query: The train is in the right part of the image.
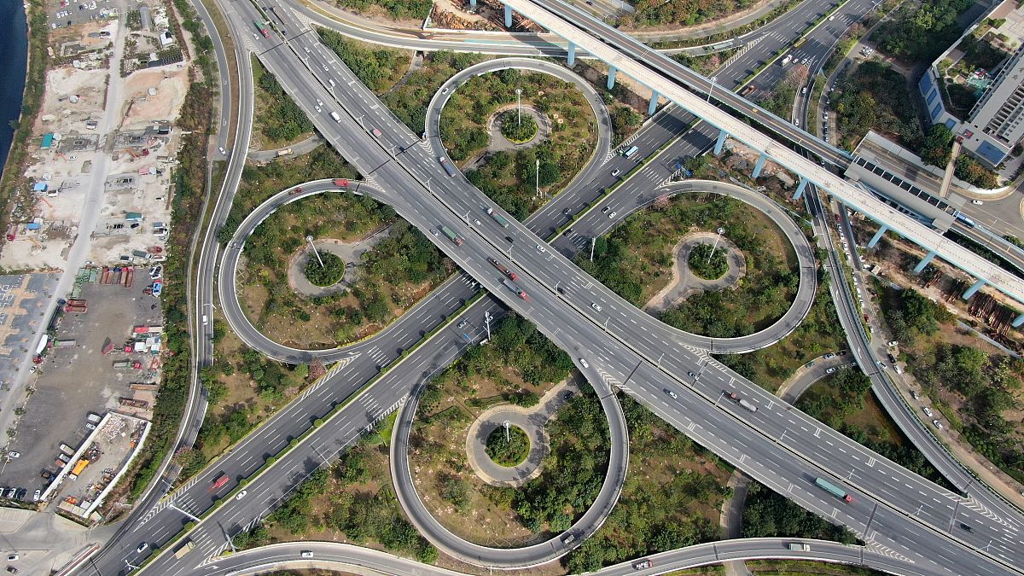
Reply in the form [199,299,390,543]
[952,211,973,233]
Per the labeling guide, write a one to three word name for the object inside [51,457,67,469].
vehicle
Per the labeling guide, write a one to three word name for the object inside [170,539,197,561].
truck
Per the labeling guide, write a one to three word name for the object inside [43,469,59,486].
vehicle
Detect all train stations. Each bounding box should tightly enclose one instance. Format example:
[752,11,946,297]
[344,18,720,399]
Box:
[834,149,967,253]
